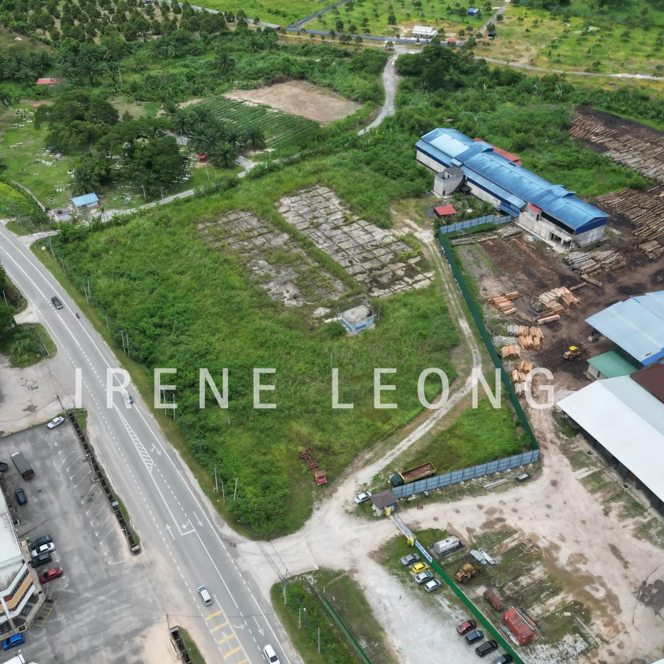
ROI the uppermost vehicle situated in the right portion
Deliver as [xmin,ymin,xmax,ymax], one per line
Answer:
[562,344,588,360]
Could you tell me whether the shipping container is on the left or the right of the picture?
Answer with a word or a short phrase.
right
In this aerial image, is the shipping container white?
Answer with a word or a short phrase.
No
